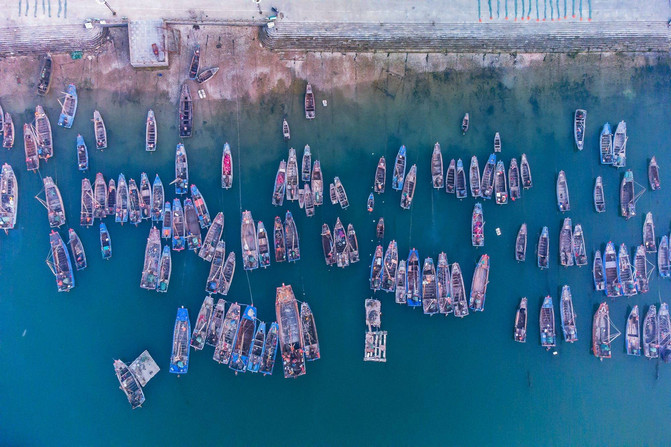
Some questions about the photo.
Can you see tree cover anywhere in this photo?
No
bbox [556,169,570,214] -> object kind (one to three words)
boat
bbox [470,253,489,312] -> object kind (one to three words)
boat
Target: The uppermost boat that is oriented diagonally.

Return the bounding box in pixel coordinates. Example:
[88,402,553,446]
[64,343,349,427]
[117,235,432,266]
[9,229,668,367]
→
[198,67,220,85]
